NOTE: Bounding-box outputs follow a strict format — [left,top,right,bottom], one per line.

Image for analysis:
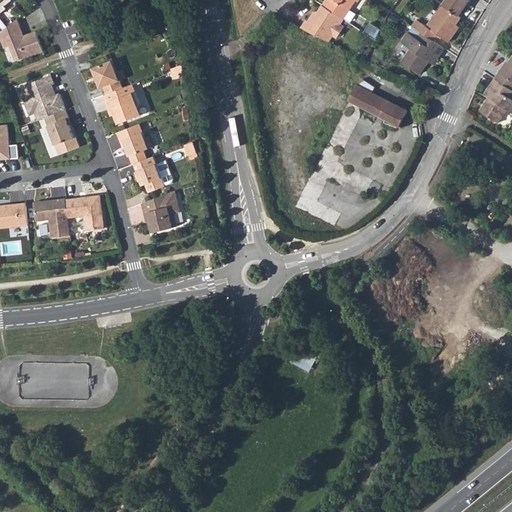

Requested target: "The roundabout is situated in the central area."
[228,246,284,303]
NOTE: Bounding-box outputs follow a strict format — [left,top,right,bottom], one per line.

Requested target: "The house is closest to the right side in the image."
[478,54,512,128]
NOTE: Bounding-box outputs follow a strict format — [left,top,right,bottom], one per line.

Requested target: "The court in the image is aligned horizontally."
[0,354,118,408]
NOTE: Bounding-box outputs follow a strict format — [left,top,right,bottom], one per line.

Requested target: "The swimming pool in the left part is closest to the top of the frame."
[166,148,186,162]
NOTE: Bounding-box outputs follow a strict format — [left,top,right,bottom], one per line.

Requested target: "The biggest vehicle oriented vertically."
[228,116,240,146]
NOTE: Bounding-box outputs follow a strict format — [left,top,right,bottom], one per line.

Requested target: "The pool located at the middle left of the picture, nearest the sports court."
[0,240,22,256]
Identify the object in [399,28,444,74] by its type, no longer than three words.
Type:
house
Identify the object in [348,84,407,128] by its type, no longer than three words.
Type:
building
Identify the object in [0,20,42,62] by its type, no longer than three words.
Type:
house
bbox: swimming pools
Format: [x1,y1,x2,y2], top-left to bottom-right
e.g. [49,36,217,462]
[166,148,186,162]
[0,240,22,256]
